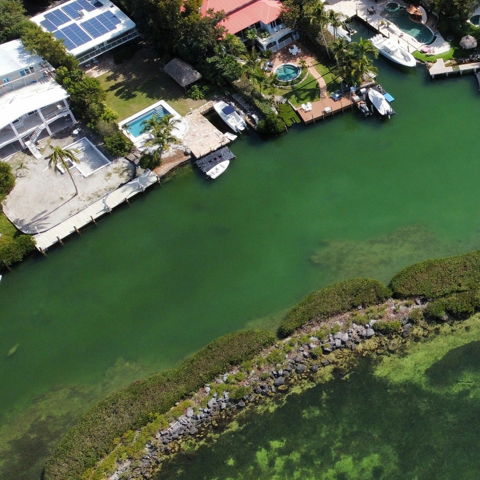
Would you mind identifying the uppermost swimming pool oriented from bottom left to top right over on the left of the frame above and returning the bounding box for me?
[122,102,178,140]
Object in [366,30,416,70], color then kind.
white boat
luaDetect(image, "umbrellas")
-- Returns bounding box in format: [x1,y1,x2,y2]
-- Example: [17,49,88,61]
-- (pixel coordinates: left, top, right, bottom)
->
[417,39,434,50]
[457,36,480,52]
